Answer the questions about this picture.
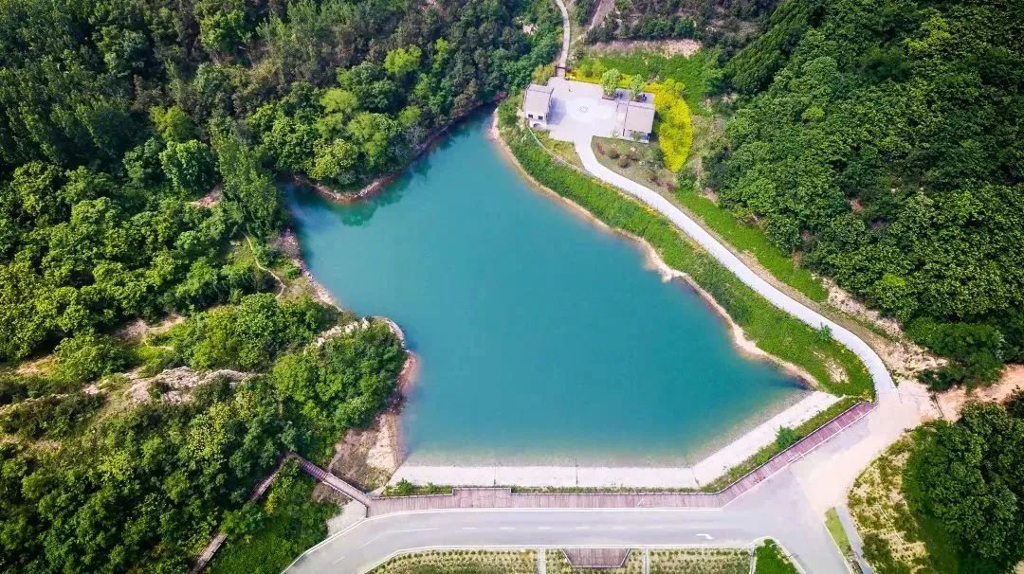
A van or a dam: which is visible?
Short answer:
dam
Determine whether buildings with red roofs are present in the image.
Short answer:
No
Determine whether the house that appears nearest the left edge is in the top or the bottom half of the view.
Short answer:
top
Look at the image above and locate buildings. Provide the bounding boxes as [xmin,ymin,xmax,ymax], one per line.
[622,101,656,146]
[523,85,554,132]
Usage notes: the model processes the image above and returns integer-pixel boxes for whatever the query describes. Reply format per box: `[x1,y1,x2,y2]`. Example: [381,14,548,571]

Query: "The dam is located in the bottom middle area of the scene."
[372,392,844,487]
